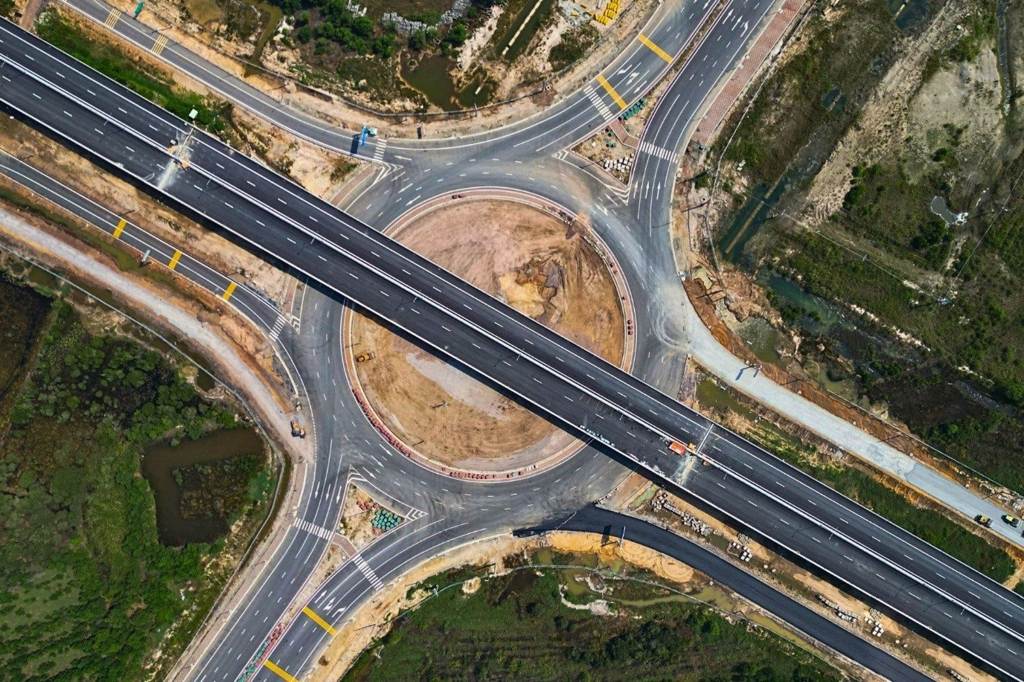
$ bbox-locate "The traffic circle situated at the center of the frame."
[289,151,687,530]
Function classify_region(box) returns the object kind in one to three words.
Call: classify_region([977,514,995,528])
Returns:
work vehicle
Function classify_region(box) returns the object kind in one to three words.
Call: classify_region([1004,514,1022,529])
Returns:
work vehicle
